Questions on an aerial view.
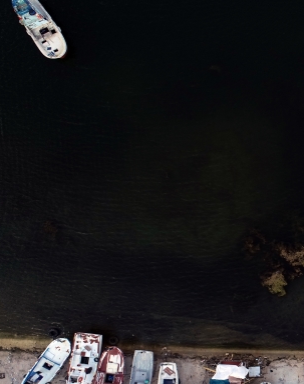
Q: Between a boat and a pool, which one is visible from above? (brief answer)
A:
boat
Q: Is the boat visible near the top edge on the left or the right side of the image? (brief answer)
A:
left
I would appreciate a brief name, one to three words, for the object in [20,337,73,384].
boat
